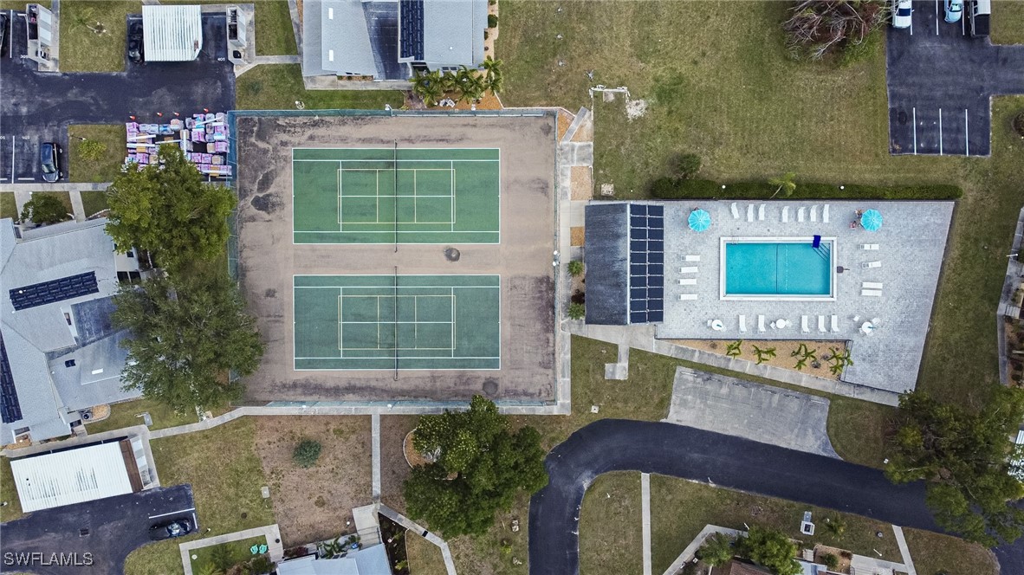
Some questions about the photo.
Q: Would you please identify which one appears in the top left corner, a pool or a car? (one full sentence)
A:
The one visible in the top left corner is a car.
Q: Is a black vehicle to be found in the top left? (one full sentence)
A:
Yes, a black vehicle shows up in the top left.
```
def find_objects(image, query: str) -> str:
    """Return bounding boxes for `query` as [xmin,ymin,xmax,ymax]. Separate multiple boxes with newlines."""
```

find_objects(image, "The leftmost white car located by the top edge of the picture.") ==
[889,0,911,27]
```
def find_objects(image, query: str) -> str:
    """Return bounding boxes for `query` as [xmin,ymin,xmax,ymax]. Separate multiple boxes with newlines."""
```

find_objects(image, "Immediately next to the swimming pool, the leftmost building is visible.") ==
[585,202,664,326]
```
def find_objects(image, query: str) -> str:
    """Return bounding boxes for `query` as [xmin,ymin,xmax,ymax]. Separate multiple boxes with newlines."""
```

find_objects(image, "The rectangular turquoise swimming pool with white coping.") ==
[721,237,838,301]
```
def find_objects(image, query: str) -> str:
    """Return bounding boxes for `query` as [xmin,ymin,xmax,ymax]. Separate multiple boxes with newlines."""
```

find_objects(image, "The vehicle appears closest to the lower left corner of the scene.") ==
[149,518,198,541]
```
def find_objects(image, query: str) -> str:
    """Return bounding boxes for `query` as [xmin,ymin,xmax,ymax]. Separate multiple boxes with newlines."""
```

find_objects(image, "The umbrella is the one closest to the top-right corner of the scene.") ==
[858,210,880,232]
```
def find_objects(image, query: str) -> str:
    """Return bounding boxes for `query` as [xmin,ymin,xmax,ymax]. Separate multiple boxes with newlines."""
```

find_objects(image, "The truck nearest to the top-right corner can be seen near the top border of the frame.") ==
[968,0,992,35]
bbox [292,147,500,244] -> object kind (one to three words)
tennis court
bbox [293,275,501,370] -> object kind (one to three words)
tennis court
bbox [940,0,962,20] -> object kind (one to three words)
car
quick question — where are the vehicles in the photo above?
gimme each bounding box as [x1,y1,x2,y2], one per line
[149,518,198,541]
[36,142,60,181]
[889,0,911,27]
[126,20,145,63]
[940,0,962,20]
[968,0,992,35]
